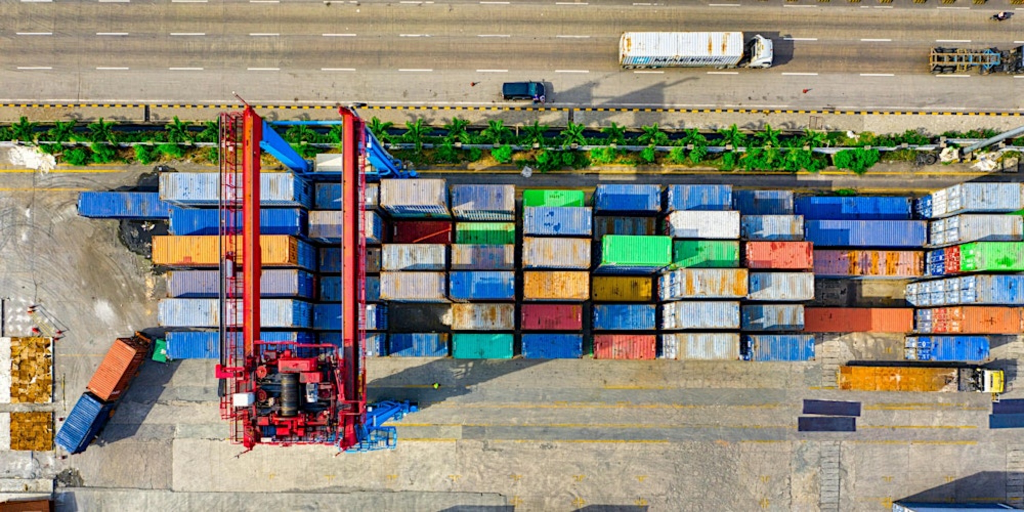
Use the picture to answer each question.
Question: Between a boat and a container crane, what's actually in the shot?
container crane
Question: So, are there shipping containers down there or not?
Yes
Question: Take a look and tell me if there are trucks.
Yes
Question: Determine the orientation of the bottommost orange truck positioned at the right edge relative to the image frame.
horizontally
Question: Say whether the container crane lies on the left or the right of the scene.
left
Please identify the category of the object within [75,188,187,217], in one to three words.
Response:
shipping container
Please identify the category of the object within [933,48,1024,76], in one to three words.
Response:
truck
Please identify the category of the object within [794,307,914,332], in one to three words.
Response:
shipping container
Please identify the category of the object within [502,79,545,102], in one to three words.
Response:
car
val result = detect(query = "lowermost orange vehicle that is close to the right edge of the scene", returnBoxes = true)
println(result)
[835,365,1003,399]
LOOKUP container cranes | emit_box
[216,91,424,460]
